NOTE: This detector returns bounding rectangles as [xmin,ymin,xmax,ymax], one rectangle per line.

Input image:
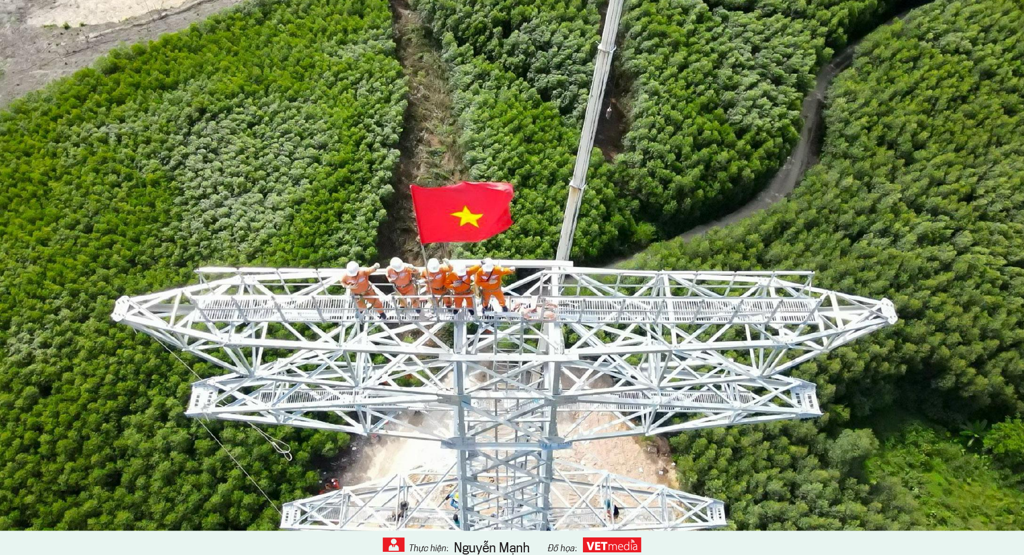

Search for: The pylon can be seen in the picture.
[112,258,896,555]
